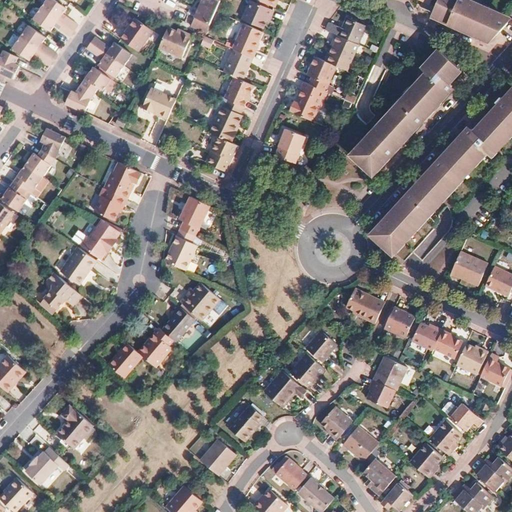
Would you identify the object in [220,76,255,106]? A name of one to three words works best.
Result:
house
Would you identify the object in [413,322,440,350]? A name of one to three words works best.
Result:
house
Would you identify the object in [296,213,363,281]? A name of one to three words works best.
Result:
roundabout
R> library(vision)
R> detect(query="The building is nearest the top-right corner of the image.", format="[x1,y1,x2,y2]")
[430,0,506,44]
